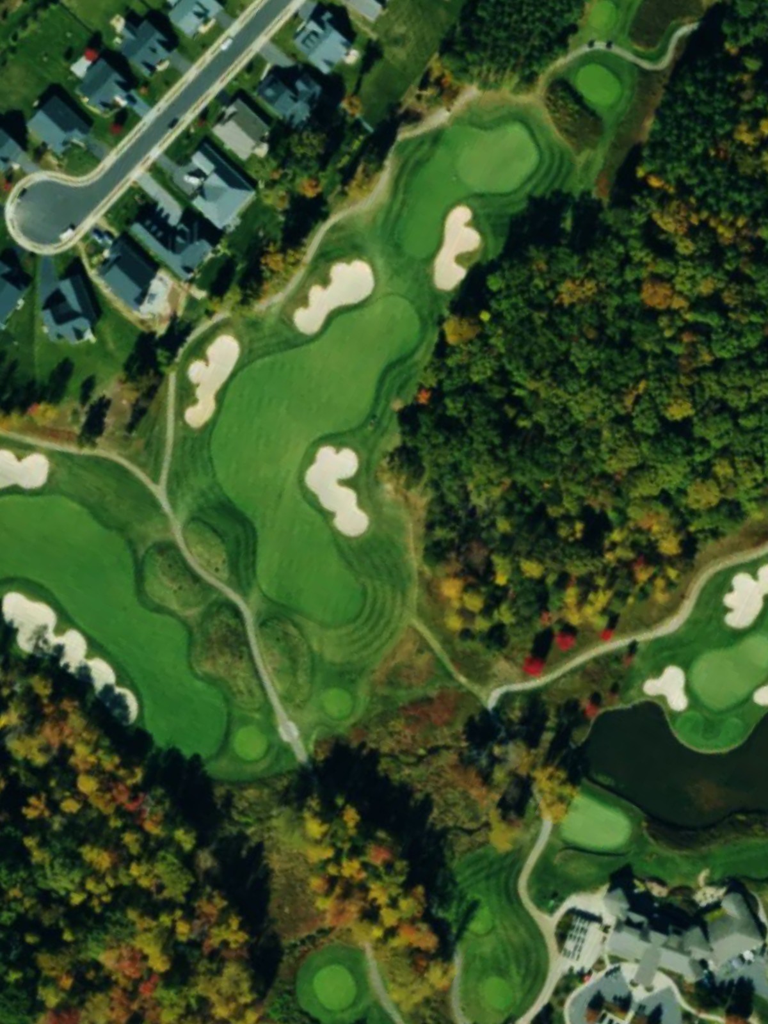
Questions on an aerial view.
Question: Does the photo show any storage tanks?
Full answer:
No, there appears to be no storage tank in this shot.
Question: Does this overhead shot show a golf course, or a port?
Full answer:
The picture captures a golf course.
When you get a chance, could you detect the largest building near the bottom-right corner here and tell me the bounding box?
[599,887,767,995]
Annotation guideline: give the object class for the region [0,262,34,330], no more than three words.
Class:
house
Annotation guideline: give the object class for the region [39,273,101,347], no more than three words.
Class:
house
